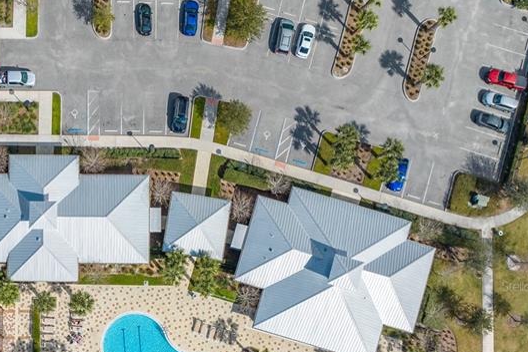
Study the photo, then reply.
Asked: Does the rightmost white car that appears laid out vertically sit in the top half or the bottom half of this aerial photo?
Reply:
top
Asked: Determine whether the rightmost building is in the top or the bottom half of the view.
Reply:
bottom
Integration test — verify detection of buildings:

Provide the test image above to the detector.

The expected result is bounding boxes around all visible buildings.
[234,187,436,352]
[163,191,232,260]
[0,155,149,281]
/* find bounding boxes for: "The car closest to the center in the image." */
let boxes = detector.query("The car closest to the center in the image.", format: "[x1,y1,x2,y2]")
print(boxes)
[172,95,190,133]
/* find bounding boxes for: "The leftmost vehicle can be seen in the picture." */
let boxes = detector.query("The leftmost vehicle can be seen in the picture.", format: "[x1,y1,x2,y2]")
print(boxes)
[0,69,36,88]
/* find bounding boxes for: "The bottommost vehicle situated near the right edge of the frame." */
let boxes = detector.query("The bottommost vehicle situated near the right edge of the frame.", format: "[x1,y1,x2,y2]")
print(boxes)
[470,111,508,133]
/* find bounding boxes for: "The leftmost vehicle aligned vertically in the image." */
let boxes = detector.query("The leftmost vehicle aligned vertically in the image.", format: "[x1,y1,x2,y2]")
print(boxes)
[136,2,153,39]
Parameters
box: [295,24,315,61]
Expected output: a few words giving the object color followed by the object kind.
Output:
white car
